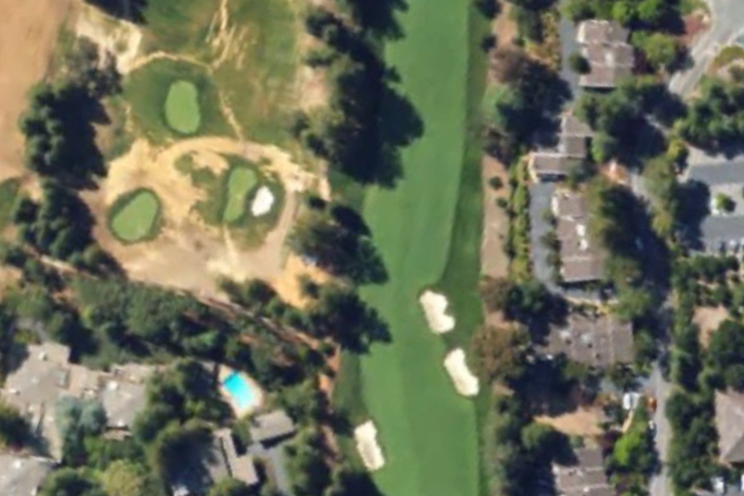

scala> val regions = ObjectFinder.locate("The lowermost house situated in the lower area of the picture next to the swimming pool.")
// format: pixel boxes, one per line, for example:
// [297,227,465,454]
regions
[206,429,262,486]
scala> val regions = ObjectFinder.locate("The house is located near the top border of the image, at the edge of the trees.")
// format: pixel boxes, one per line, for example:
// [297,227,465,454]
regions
[577,20,633,88]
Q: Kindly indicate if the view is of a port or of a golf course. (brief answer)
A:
golf course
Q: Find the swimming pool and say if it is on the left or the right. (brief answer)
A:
left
